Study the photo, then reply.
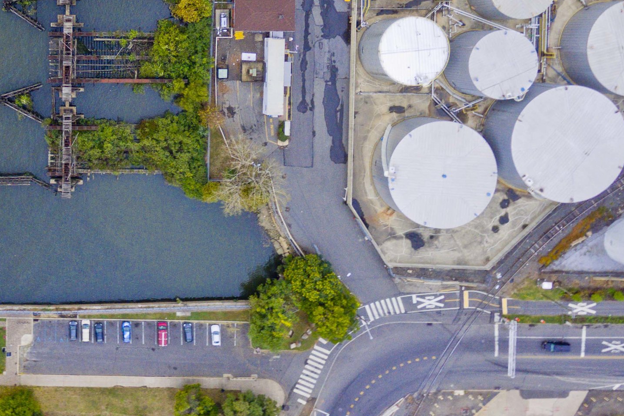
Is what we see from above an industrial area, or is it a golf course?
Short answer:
industrial area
